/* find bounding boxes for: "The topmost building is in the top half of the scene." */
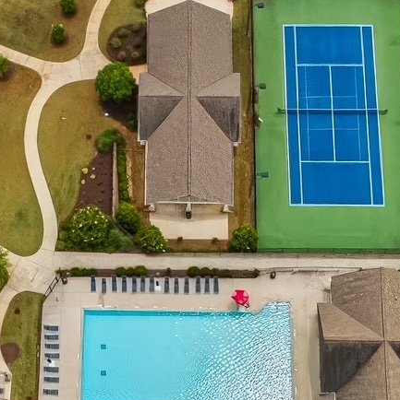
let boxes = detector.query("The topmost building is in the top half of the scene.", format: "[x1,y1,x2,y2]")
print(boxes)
[135,0,241,240]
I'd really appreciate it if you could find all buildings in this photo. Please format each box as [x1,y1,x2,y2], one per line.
[135,0,241,240]
[317,267,400,400]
